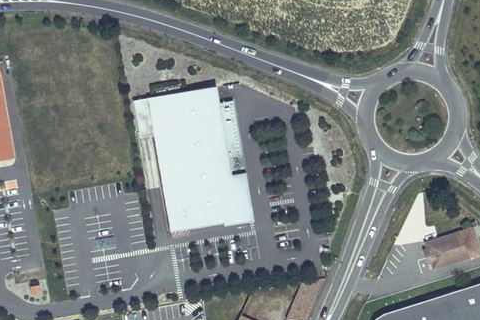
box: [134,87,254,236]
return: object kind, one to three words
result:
building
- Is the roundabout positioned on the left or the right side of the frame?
right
